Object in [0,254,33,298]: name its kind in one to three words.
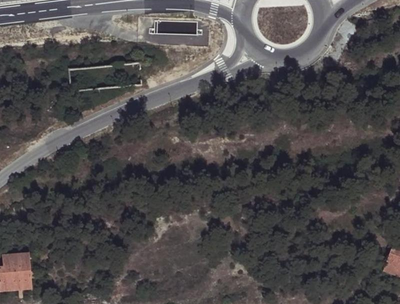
house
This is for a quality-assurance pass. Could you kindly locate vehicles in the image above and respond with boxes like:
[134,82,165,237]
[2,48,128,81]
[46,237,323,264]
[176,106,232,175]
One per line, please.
[264,46,275,54]
[334,8,344,18]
